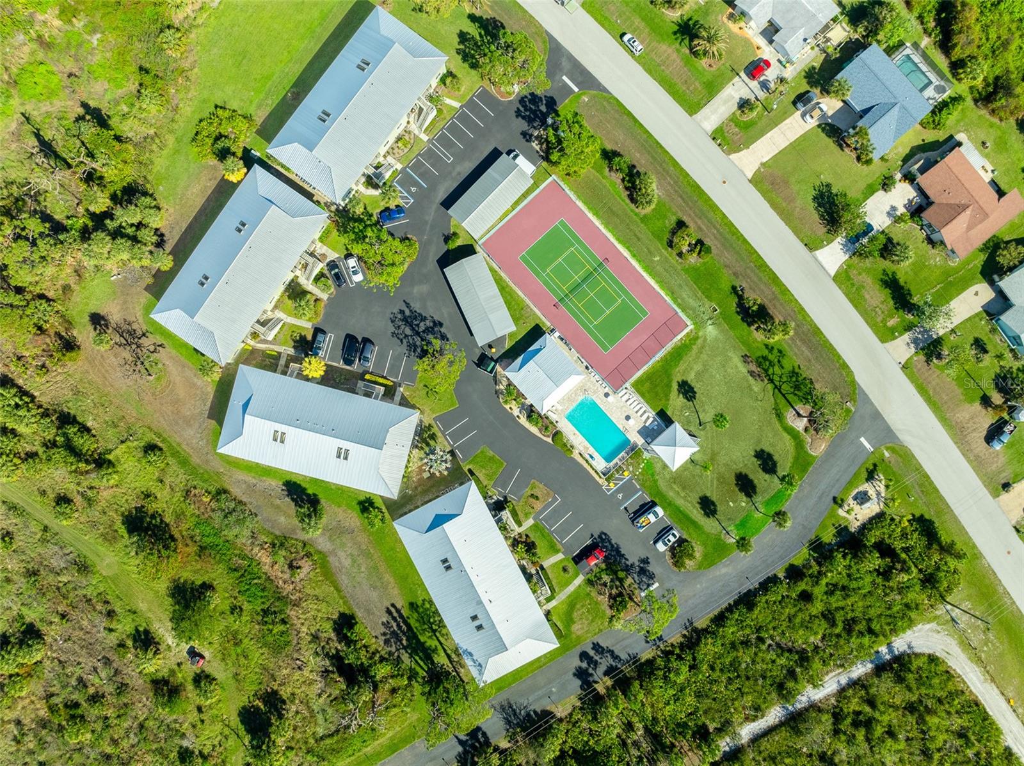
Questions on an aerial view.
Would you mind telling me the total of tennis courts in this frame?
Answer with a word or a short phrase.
1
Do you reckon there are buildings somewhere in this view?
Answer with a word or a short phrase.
Yes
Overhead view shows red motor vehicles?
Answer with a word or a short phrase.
Yes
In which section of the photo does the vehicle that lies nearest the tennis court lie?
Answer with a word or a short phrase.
top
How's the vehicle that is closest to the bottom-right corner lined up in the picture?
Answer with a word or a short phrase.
on a diagonal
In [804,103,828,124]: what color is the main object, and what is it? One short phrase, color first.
white car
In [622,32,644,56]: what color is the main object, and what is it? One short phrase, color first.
white car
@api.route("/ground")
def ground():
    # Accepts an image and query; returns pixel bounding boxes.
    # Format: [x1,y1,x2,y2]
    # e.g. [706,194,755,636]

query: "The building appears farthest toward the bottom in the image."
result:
[393,480,560,687]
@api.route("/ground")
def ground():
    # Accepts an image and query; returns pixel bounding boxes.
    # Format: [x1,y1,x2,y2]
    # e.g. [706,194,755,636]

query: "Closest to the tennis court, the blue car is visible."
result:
[380,207,406,222]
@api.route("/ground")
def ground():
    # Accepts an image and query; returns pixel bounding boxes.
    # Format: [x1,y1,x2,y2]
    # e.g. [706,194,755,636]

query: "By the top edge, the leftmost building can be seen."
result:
[266,6,447,206]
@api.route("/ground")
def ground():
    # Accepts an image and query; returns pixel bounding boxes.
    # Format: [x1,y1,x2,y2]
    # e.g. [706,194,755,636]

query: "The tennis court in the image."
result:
[482,179,690,390]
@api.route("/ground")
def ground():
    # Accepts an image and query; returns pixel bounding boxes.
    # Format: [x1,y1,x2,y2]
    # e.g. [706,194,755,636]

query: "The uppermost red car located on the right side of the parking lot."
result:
[749,60,772,81]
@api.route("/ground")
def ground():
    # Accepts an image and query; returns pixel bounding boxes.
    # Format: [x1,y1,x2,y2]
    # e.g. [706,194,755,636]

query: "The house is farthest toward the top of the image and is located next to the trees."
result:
[733,0,841,58]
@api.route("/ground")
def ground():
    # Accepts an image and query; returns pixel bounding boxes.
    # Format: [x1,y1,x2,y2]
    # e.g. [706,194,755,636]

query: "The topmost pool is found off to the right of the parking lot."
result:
[895,52,935,93]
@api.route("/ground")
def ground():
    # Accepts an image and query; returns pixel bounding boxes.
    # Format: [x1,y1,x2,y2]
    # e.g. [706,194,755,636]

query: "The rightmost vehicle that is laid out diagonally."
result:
[990,419,1020,449]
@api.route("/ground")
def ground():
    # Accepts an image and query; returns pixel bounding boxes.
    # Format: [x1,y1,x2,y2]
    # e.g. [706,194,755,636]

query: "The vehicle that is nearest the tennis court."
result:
[511,151,537,175]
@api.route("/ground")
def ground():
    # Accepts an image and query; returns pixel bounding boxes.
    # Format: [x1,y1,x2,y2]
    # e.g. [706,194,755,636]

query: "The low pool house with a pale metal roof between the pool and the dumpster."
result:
[505,333,586,414]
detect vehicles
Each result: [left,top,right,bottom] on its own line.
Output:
[312,331,327,356]
[511,151,537,175]
[343,336,358,366]
[749,60,772,81]
[804,103,828,124]
[346,256,364,283]
[328,262,347,288]
[186,650,204,666]
[795,92,817,111]
[635,506,665,533]
[576,547,607,573]
[622,32,644,56]
[380,207,406,222]
[990,419,1020,449]
[361,341,375,367]
[656,529,679,552]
